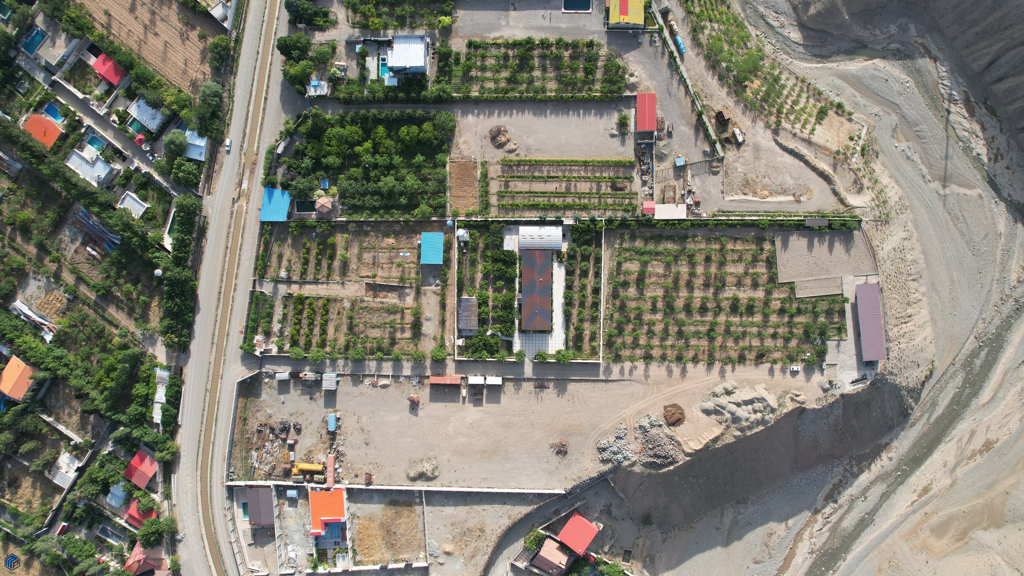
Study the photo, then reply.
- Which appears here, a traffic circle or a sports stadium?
sports stadium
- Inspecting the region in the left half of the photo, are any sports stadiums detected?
No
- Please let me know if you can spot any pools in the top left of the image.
Yes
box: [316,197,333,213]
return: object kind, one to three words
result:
gazebo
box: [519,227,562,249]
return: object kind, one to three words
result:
building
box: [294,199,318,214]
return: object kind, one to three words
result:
swimming pool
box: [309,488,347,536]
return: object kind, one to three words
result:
house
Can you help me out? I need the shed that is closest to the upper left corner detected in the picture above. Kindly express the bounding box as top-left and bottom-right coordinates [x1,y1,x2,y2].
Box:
[54,39,84,65]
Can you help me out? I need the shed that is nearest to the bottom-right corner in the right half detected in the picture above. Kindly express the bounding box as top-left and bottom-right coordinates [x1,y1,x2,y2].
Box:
[851,284,885,361]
